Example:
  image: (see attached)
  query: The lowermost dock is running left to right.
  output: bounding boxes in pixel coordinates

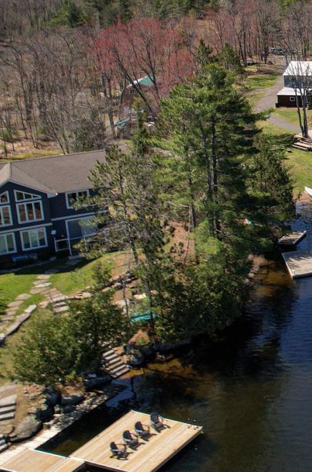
[4,449,86,472]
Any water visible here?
Yes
